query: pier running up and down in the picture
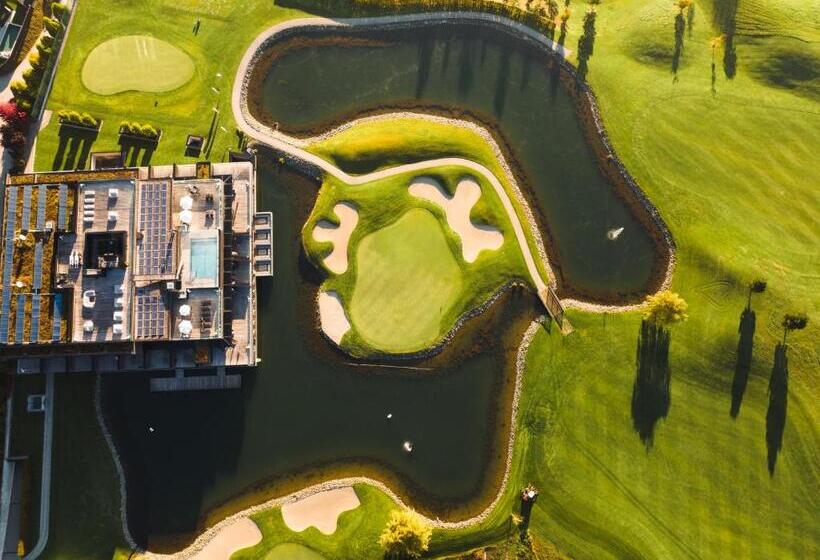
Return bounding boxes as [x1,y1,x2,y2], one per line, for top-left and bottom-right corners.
[255,212,274,280]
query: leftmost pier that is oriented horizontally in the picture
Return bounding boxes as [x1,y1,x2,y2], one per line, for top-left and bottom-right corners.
[151,366,241,392]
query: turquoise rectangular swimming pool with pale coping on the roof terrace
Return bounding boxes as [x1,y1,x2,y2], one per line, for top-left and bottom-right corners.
[181,229,220,291]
